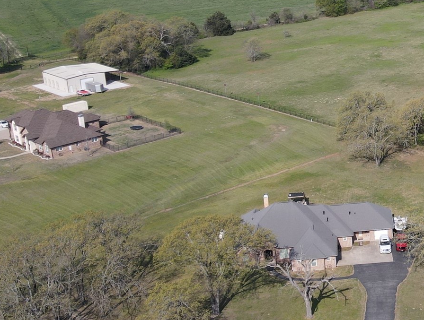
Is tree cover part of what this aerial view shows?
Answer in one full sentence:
Yes, there is tree cover in the image.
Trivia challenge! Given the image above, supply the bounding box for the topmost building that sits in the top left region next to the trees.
[42,63,120,93]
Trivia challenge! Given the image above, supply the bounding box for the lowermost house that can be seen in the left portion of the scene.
[9,107,105,158]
